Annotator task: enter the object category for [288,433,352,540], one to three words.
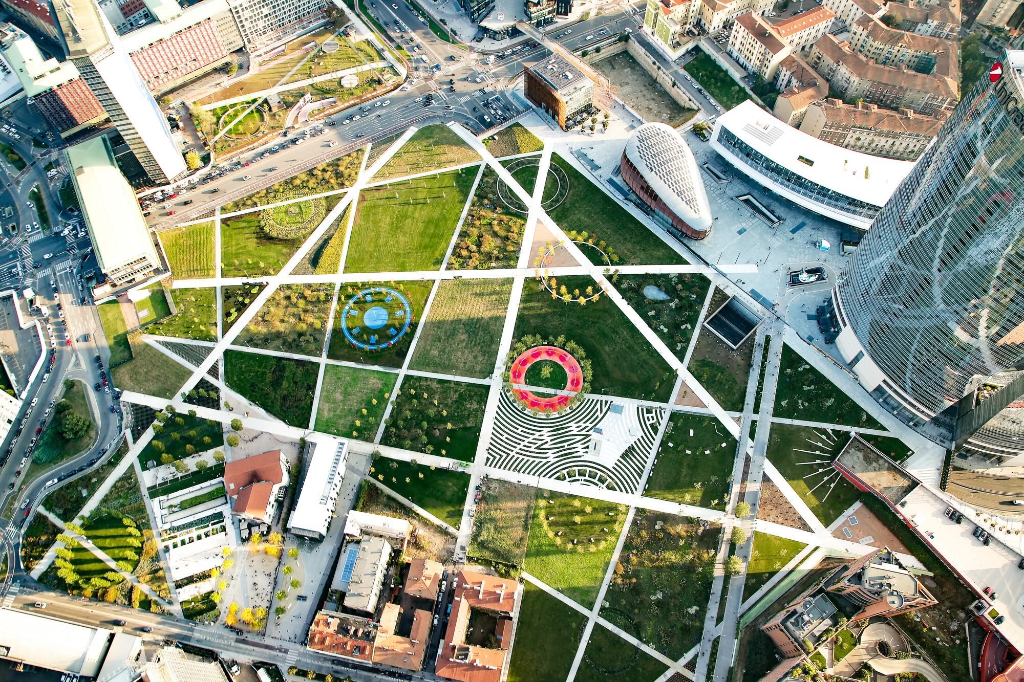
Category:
building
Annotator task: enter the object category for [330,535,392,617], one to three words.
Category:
building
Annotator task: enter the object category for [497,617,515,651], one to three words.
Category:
shed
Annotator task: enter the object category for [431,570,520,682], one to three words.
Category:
house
